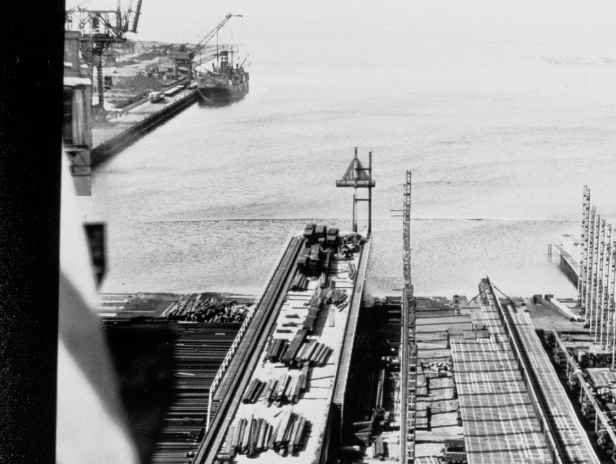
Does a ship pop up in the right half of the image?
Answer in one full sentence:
No, no ship appears in the right half of the image.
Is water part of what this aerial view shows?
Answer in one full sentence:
Yes, there's water in this view.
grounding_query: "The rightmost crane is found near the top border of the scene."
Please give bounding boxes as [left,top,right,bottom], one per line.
[163,14,242,93]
